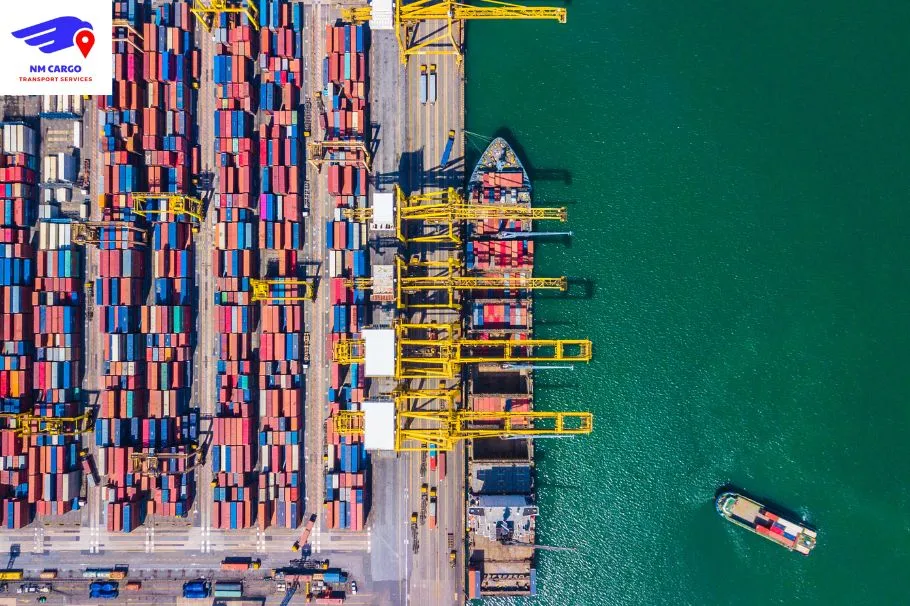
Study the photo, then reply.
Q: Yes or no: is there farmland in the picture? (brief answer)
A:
No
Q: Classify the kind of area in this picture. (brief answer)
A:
port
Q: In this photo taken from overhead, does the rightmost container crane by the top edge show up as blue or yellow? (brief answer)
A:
yellow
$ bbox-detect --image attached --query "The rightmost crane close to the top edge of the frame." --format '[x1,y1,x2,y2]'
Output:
[345,0,567,79]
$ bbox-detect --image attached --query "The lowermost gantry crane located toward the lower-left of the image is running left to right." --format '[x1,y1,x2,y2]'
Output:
[132,443,204,475]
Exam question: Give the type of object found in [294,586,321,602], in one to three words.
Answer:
work vehicle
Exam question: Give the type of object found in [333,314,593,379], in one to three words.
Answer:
container crane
